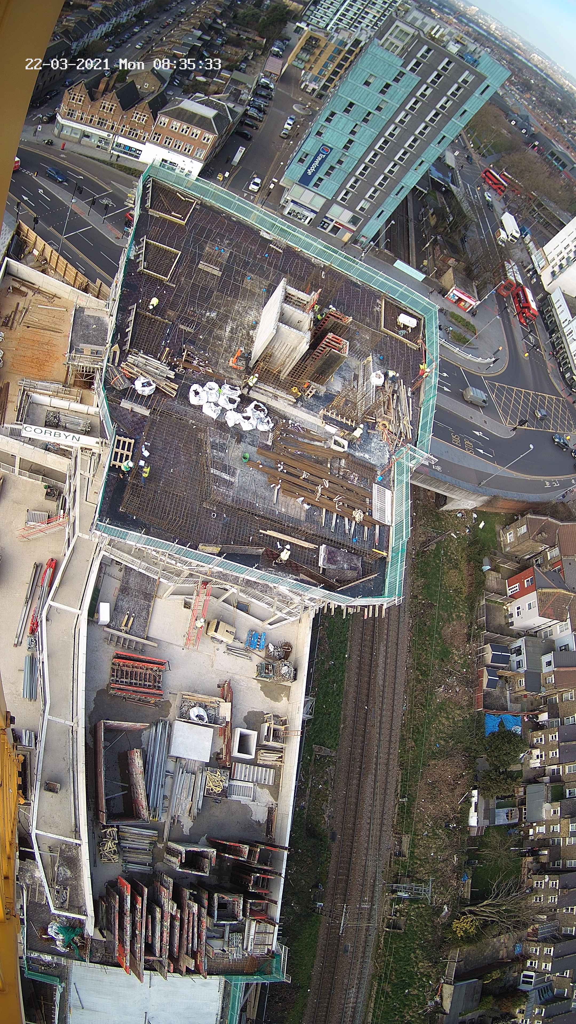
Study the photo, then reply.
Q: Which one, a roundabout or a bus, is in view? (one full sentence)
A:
Looking from above, you can make out a bus.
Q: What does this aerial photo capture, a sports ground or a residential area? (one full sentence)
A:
What you see here is a residential area.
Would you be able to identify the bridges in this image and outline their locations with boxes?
[394,467,496,516]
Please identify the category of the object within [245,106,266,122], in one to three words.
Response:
car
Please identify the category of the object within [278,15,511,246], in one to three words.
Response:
building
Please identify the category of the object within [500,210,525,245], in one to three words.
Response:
truck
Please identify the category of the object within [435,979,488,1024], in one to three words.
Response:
shed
